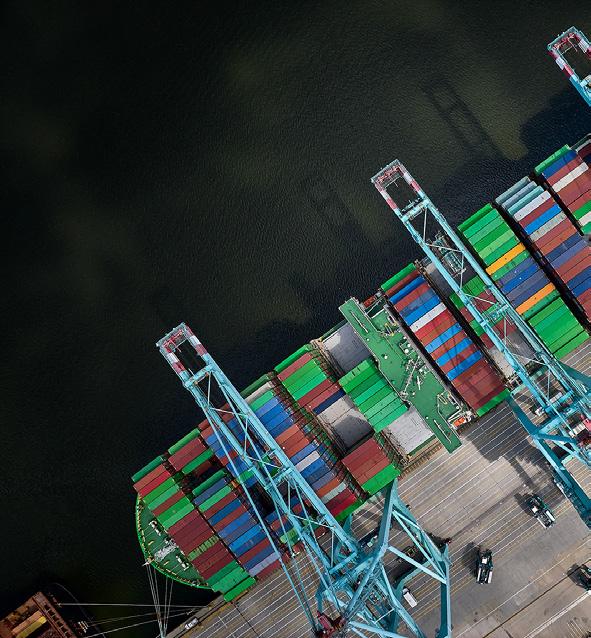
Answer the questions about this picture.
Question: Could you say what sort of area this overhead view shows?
port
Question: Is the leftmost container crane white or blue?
blue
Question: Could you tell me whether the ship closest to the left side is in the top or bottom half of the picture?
bottom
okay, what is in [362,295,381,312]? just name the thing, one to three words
boat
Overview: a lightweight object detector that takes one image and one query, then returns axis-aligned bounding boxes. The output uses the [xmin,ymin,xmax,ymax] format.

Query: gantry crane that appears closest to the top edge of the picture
[547,25,591,113]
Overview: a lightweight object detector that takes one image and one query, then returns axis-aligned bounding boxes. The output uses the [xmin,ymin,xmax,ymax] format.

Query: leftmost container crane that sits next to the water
[157,319,461,638]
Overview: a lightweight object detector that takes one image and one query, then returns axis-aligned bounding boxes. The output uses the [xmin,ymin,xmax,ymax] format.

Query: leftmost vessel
[0,574,120,638]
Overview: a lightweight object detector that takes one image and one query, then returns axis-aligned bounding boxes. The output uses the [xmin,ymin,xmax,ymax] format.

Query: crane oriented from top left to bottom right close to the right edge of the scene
[369,159,591,518]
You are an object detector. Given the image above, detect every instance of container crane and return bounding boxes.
[547,25,591,113]
[157,319,461,638]
[369,159,591,518]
